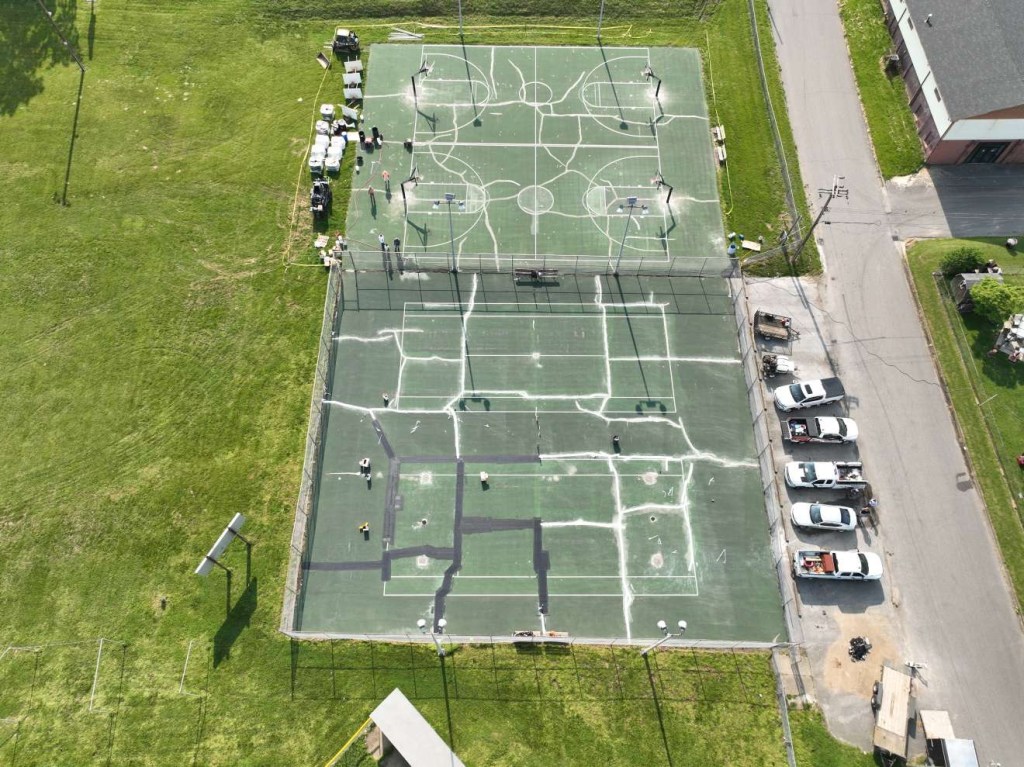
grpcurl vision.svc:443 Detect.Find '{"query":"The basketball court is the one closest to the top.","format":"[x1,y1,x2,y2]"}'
[358,43,715,148]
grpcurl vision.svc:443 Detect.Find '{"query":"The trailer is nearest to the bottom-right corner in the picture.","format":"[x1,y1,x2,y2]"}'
[921,707,982,767]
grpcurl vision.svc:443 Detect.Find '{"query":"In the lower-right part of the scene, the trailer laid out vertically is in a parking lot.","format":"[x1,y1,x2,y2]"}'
[871,666,916,767]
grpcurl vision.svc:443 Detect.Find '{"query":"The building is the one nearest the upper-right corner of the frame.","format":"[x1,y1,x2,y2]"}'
[879,0,1024,167]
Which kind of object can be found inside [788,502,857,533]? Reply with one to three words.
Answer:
car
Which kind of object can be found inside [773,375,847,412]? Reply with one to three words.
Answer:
truck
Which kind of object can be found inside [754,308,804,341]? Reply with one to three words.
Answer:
trailer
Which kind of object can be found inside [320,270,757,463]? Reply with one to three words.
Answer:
tennis court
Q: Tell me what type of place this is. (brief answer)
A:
sports ground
